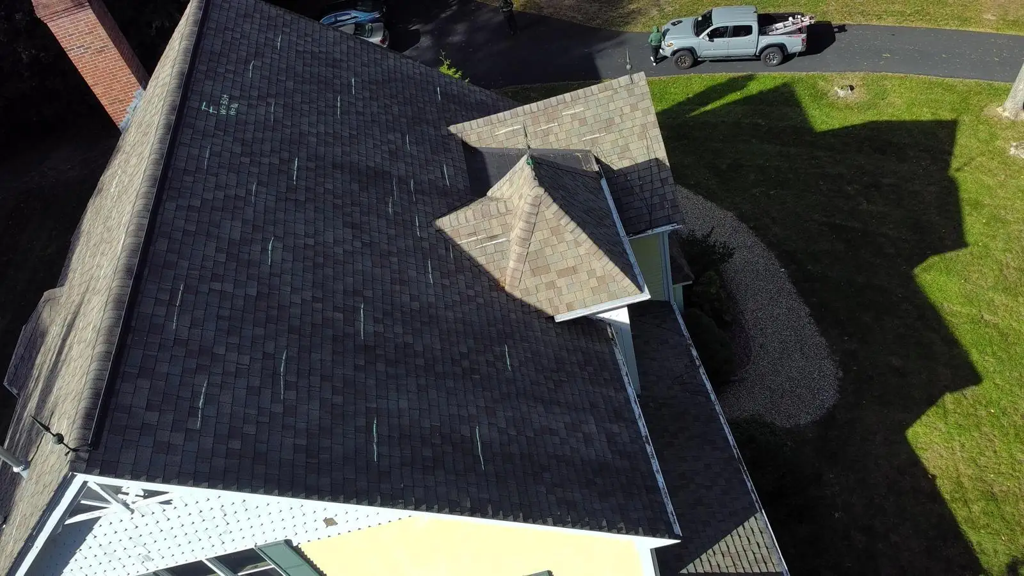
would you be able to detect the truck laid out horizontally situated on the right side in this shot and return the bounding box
[659,2,810,69]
